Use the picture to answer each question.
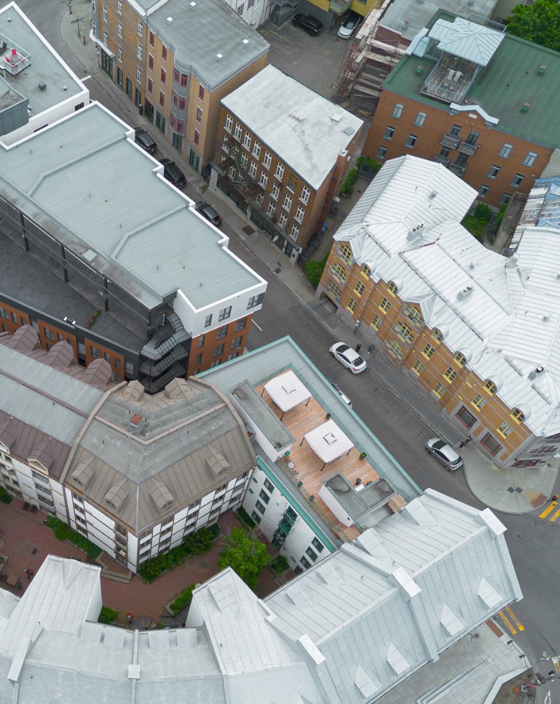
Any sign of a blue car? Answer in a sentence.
No, no blue car is visible in the scene.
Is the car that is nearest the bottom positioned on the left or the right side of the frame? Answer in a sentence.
The car that is nearest the bottom is on the right side of the image.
